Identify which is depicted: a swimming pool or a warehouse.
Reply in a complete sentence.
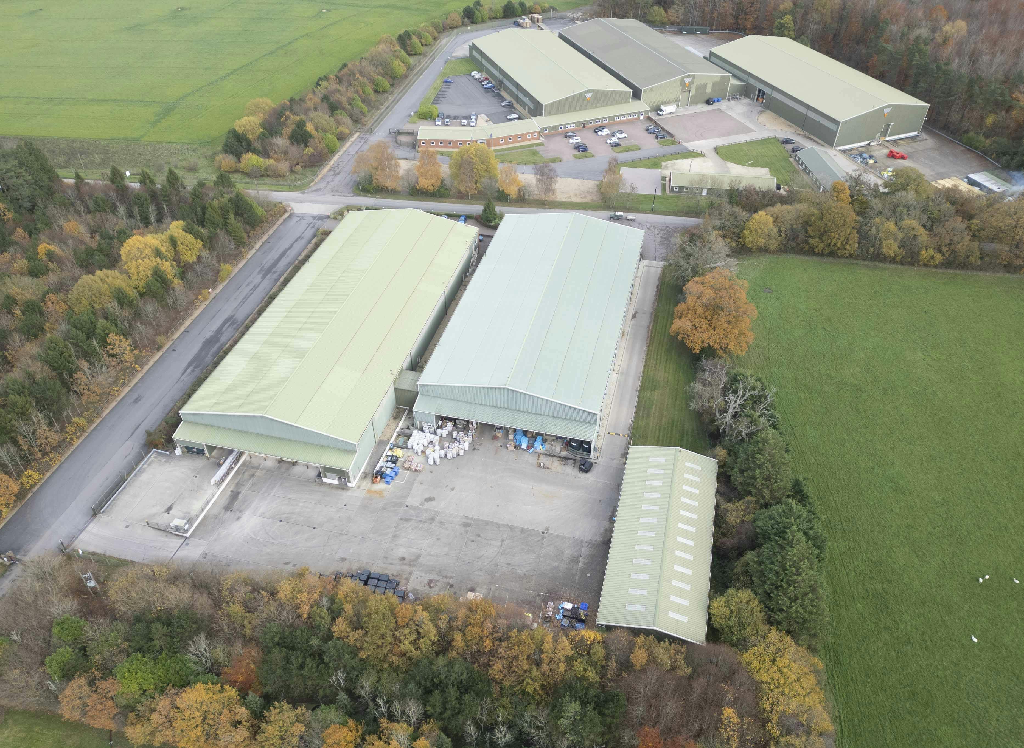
Looking from above, you can make out a warehouse.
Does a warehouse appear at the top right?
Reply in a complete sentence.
Yes, a warehouse is visible at the top right.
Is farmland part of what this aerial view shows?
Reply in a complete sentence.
Yes, the picture does contain farmland.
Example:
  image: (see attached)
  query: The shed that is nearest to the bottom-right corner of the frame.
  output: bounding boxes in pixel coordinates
[595,445,719,658]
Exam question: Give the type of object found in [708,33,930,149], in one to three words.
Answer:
warehouse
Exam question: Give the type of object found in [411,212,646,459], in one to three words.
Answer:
warehouse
